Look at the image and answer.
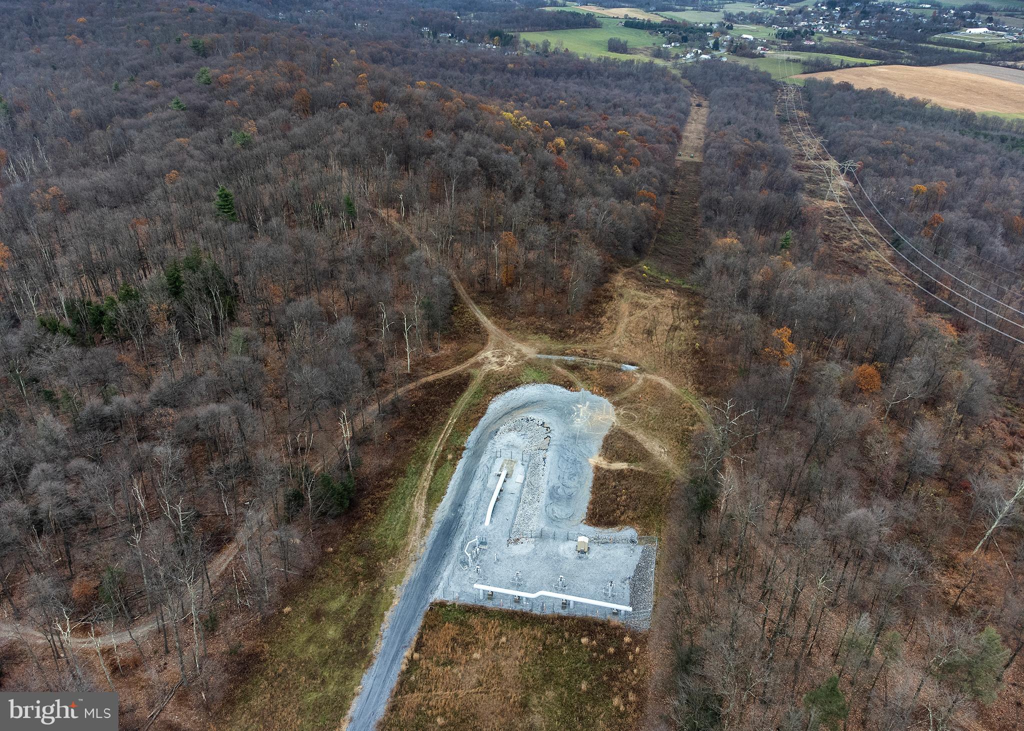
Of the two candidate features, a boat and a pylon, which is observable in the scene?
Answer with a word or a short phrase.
pylon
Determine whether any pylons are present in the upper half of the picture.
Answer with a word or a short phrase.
Yes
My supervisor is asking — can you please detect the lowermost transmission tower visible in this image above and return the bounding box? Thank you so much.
[819,159,862,206]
